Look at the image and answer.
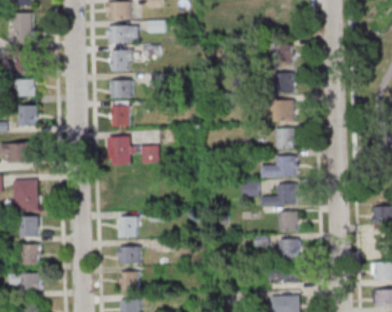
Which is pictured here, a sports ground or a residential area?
residential area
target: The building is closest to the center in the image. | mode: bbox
[142,145,160,164]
